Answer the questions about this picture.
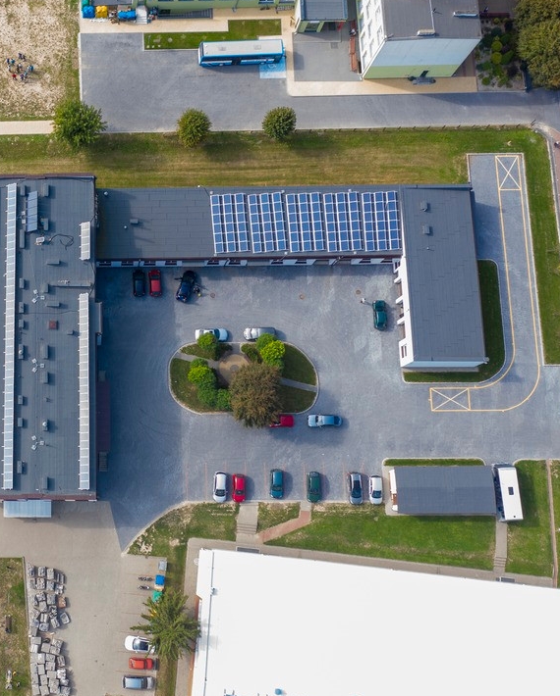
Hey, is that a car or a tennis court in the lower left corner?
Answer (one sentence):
You can see a car in the lower left corner.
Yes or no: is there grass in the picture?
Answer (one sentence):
Yes, there's grass in this view.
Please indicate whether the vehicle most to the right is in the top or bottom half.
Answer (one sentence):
The vehicle most to the right sits in the bottom half of the picture.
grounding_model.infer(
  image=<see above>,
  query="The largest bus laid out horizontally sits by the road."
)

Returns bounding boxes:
[199,37,288,66]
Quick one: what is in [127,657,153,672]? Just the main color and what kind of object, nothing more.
red car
